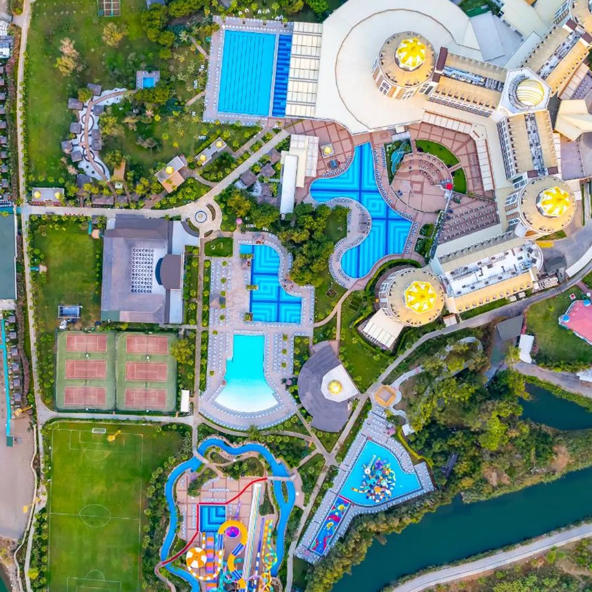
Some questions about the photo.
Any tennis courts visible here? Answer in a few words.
Yes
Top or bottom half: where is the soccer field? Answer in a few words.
bottom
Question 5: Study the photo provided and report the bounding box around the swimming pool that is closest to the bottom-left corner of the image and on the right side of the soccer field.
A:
[199,506,226,534]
